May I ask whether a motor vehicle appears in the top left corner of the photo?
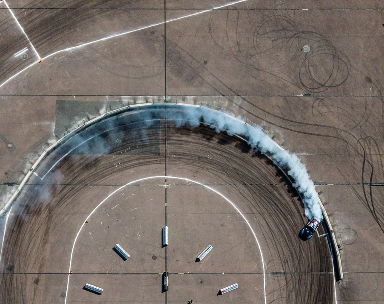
No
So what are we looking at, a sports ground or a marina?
sports ground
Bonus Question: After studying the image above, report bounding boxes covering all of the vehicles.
[296,212,326,244]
